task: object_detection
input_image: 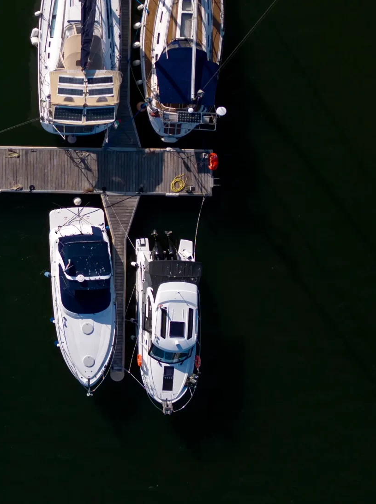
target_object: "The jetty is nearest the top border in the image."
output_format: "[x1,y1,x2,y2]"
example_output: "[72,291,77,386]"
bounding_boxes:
[100,0,142,149]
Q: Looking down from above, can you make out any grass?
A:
No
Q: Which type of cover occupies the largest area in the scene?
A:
water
